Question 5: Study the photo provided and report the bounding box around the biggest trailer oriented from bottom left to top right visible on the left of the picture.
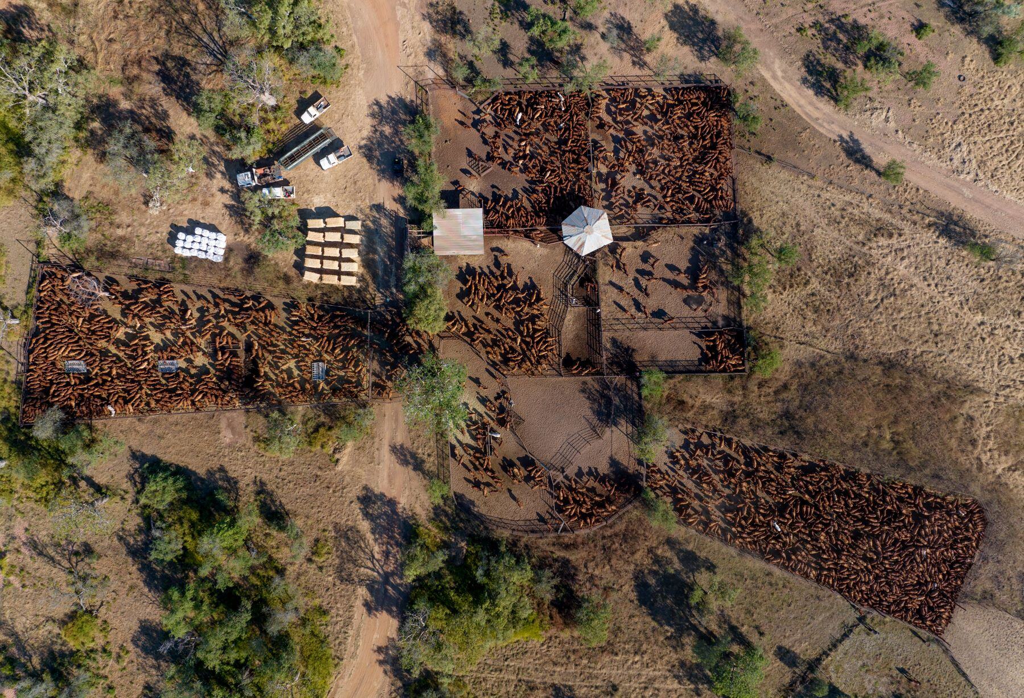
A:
[277,120,343,177]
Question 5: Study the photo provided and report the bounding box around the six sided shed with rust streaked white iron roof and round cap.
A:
[561,205,613,258]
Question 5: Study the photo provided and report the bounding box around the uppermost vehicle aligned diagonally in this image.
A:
[300,94,332,123]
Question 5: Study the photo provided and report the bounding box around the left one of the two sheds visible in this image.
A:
[434,208,484,257]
